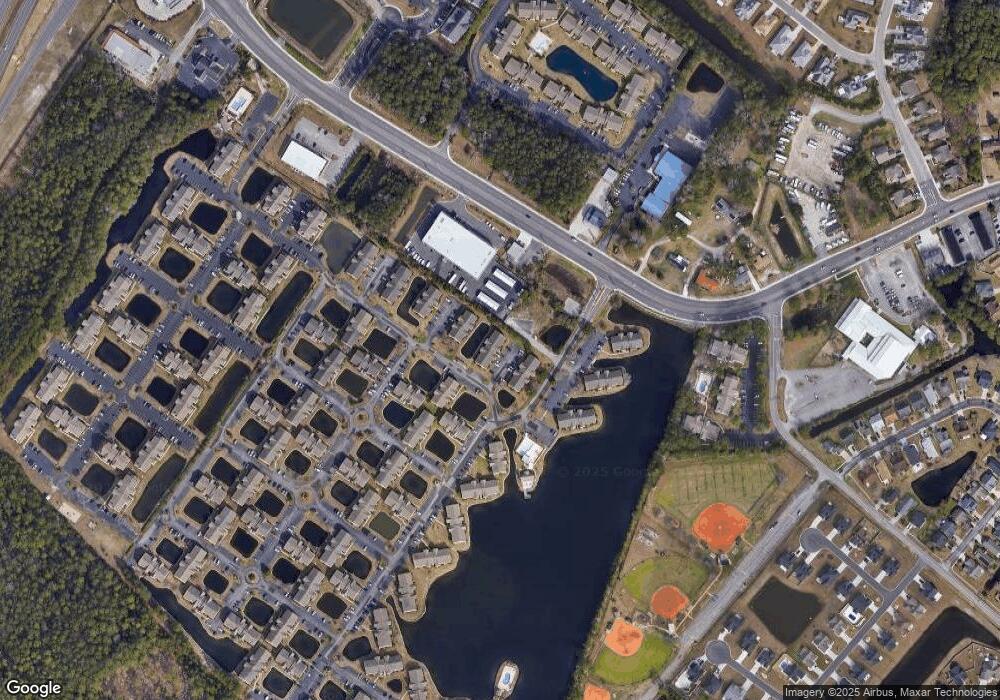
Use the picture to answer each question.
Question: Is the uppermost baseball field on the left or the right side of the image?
right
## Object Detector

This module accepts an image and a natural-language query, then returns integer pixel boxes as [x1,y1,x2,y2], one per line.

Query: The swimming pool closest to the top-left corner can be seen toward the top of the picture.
[228,87,254,118]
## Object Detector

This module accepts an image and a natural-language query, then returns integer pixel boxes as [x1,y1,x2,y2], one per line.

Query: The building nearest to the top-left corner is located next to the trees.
[104,30,161,81]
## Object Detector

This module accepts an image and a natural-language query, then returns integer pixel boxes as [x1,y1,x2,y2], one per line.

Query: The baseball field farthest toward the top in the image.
[654,455,779,555]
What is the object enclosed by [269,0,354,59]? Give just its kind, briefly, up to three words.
pond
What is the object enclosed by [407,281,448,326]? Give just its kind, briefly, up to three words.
building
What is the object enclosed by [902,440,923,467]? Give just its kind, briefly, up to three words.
house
